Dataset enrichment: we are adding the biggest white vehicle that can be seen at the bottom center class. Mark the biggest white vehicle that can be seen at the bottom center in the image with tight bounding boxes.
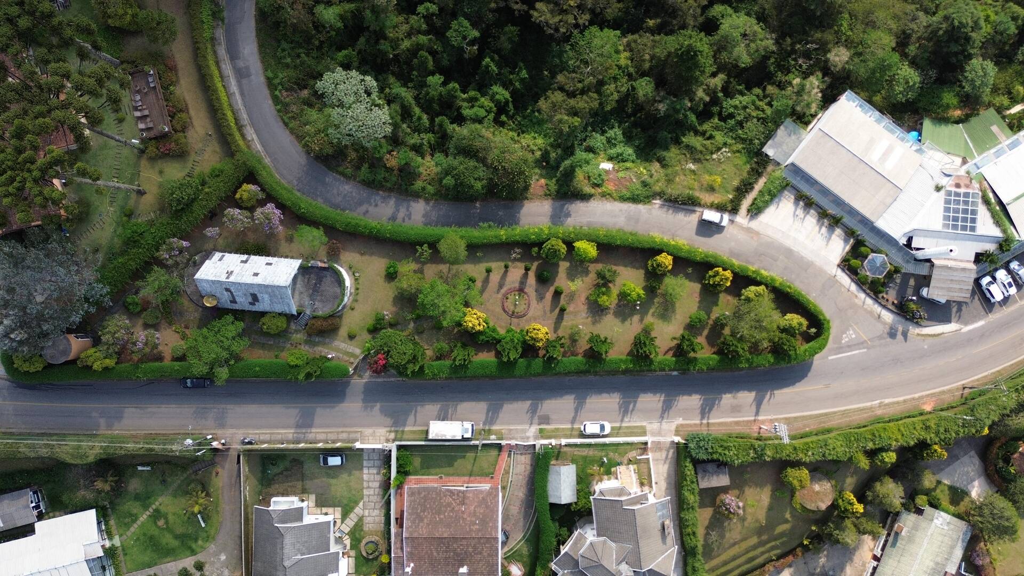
[428,421,475,439]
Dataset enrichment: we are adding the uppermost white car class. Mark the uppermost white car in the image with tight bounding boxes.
[699,211,727,226]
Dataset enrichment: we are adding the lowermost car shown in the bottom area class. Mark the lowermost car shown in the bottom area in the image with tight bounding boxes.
[499,522,512,547]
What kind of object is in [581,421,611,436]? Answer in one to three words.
car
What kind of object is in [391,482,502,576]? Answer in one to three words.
house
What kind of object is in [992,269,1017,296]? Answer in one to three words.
car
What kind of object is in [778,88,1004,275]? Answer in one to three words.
building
